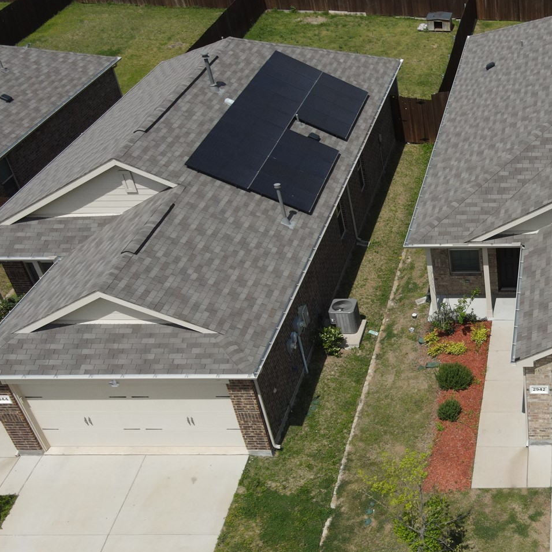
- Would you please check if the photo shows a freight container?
No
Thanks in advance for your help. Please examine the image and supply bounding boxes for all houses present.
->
[0,37,404,460]
[404,16,552,447]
